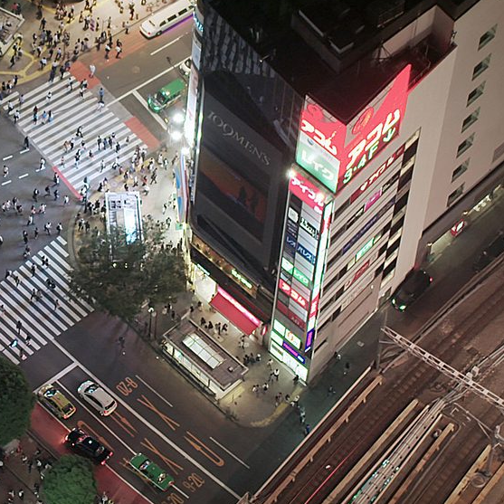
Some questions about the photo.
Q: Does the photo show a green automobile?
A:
Yes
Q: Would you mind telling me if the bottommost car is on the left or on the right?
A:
left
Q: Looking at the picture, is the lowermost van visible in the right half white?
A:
No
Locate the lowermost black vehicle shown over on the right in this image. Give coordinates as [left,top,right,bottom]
[392,262,437,308]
